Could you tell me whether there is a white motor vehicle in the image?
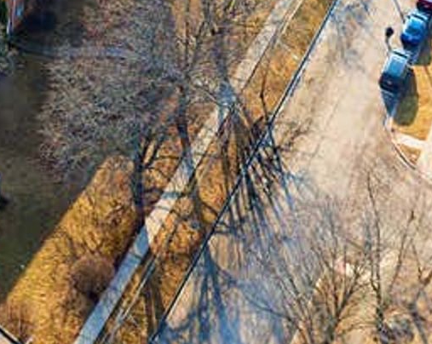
No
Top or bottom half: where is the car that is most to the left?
top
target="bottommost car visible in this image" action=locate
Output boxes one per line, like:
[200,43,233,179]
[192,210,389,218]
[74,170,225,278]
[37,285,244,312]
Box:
[380,45,412,90]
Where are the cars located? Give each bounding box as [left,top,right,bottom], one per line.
[380,45,412,90]
[401,9,430,44]
[412,0,432,12]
